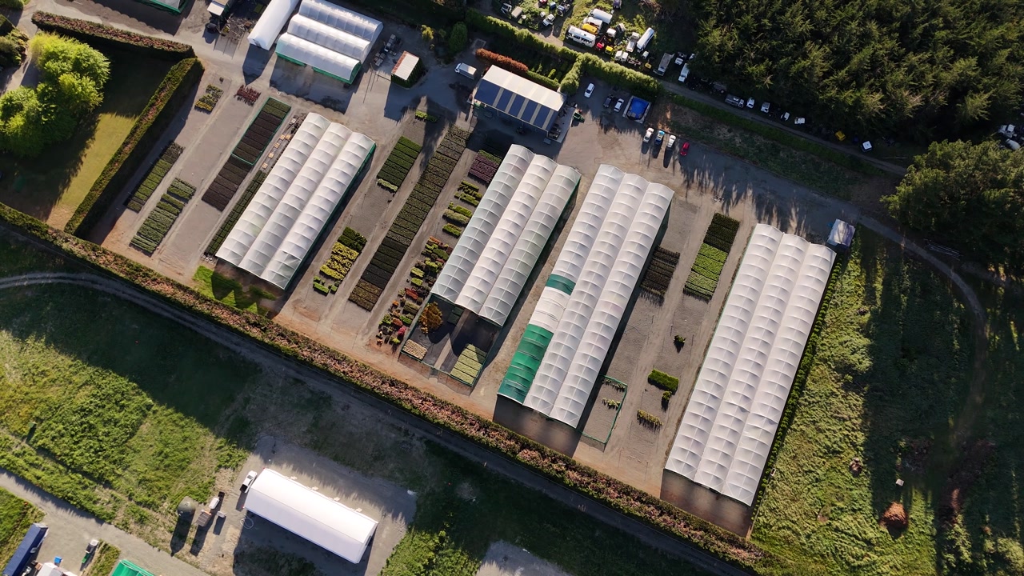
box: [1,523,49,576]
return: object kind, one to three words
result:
trailer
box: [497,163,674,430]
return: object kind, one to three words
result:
greenhouse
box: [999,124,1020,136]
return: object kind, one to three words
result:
vehicle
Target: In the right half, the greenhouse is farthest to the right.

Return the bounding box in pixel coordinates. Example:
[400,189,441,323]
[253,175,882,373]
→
[663,223,836,507]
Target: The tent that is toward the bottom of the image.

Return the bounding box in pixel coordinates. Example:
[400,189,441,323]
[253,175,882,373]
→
[243,468,379,564]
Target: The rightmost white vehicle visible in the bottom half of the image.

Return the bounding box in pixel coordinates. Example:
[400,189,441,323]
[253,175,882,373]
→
[240,469,258,491]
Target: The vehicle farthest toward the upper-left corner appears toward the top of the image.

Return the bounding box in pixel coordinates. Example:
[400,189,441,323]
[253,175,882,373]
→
[456,63,477,79]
